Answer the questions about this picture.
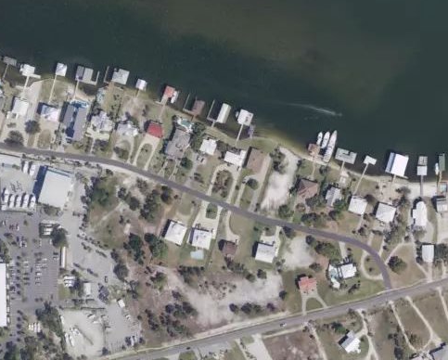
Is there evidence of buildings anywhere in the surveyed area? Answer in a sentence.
Yes, the image includes a building.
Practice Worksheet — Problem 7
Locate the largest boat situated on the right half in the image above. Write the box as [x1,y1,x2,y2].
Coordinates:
[323,131,337,162]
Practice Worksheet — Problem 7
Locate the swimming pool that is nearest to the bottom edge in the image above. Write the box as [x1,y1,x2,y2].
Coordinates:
[327,263,340,286]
